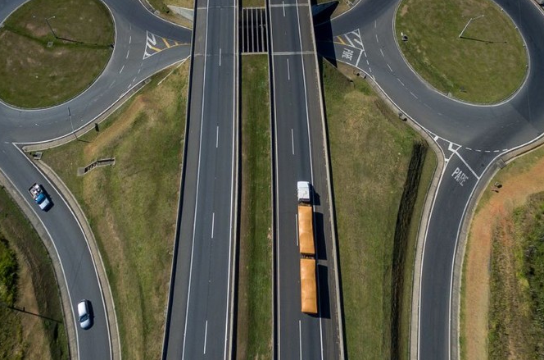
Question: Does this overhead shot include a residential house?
No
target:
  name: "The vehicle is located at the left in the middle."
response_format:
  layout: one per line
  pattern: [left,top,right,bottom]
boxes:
[29,182,48,209]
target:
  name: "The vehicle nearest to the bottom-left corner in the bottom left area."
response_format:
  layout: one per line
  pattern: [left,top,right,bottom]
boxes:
[76,296,90,330]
